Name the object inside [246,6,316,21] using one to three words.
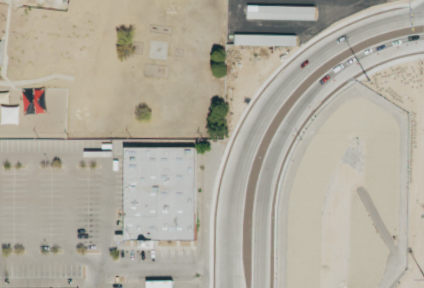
building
